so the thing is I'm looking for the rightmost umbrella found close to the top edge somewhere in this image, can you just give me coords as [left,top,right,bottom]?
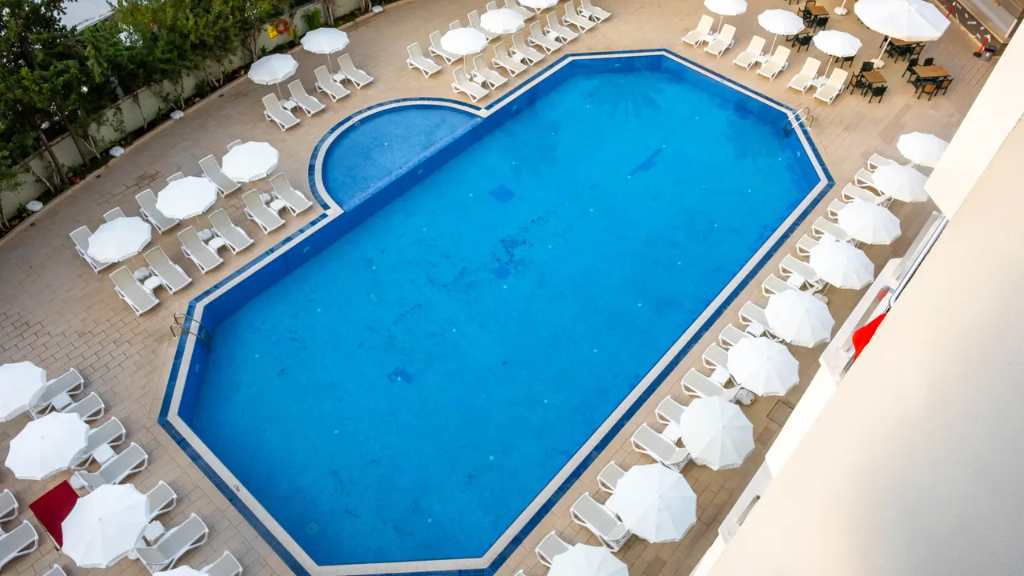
[848,0,953,66]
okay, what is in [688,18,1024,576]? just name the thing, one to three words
building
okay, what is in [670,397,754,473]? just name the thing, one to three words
umbrella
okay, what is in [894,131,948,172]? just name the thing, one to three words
umbrella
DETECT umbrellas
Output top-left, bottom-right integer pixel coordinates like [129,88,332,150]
[762,289,836,350]
[894,131,948,172]
[3,408,99,489]
[722,335,799,403]
[156,176,225,238]
[57,483,158,576]
[440,26,492,79]
[81,214,156,279]
[246,51,300,106]
[868,162,929,209]
[0,358,53,431]
[670,397,754,473]
[296,25,349,78]
[609,464,697,553]
[848,0,953,66]
[544,523,635,576]
[757,10,805,59]
[480,6,528,43]
[839,200,904,249]
[513,0,560,21]
[814,30,864,80]
[809,240,876,304]
[702,0,750,39]
[220,141,283,202]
